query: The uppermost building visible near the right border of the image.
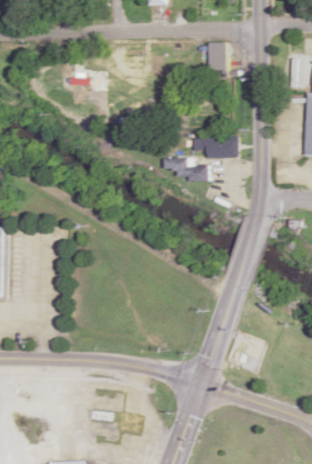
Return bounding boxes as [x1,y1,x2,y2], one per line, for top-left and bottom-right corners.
[291,56,312,88]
